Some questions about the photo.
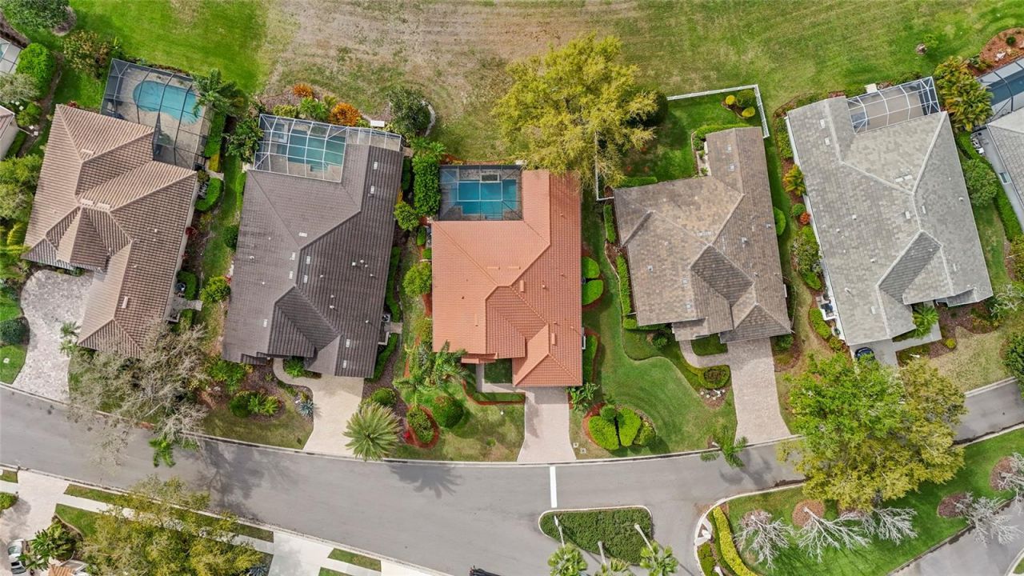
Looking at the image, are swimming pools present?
Yes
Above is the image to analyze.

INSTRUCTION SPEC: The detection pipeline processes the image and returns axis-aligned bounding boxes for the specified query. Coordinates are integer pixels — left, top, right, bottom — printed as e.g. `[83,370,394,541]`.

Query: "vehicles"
[467,566,507,576]
[853,343,882,388]
[0,533,26,576]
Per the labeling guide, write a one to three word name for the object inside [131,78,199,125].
swimming pool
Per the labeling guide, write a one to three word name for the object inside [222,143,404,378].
house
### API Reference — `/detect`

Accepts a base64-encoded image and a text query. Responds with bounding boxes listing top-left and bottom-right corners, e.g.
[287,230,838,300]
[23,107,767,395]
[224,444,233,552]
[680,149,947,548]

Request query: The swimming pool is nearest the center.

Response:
[442,170,520,220]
